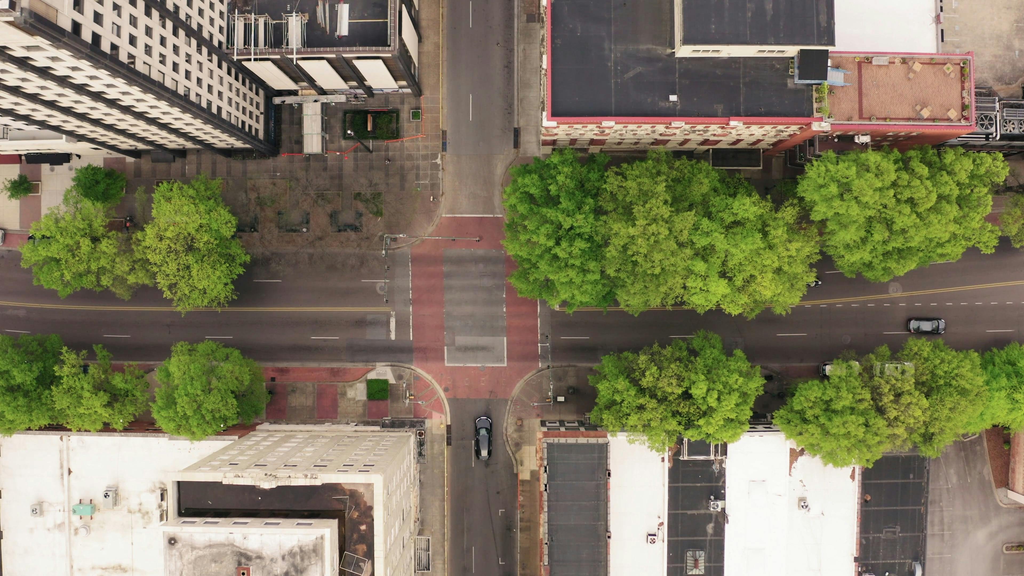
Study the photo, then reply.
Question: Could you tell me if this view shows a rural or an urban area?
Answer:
urban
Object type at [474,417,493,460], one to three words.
car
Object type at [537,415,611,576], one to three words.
building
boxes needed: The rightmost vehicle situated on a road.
[906,317,946,335]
